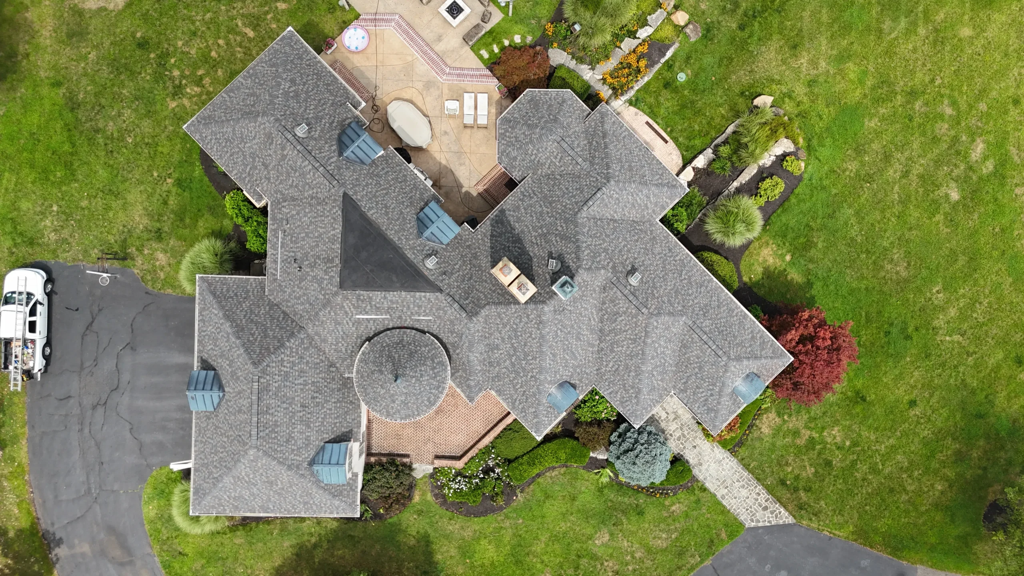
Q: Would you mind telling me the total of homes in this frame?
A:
one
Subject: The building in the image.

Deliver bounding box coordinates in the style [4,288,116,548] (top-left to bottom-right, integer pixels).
[181,24,796,519]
